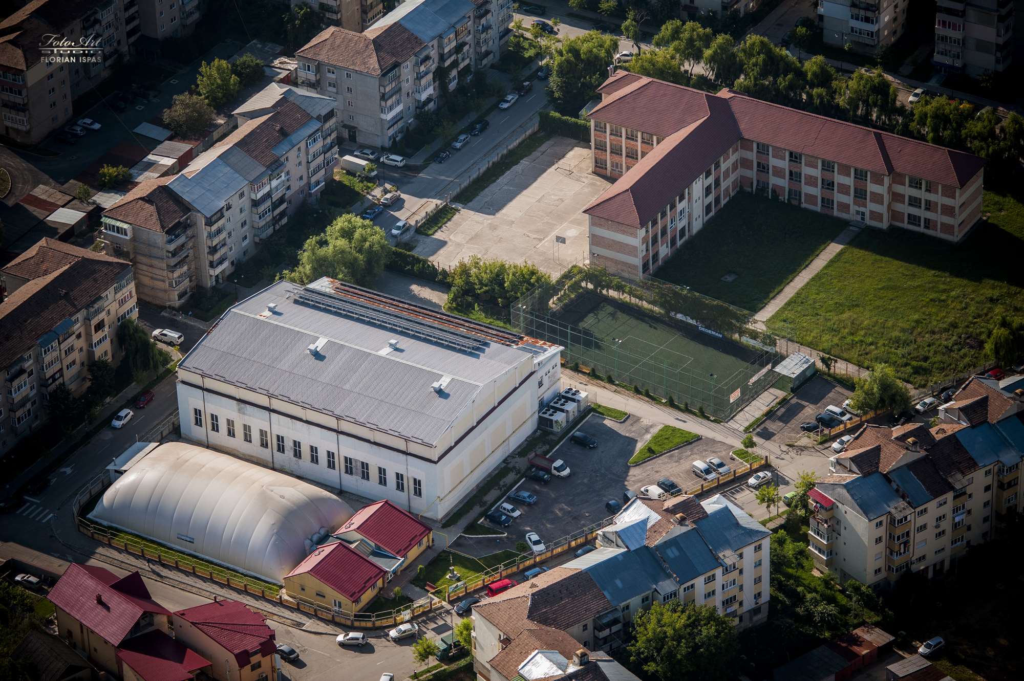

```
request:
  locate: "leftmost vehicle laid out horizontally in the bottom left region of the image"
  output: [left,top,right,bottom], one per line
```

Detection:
[13,573,44,589]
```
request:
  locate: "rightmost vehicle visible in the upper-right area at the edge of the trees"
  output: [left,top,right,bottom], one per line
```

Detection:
[974,104,996,120]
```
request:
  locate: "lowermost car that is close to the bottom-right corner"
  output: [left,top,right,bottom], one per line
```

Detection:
[916,635,947,656]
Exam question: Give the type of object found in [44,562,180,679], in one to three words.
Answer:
house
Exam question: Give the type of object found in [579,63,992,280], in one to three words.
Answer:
building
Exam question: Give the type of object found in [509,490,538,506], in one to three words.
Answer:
car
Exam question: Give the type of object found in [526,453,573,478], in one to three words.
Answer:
truck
